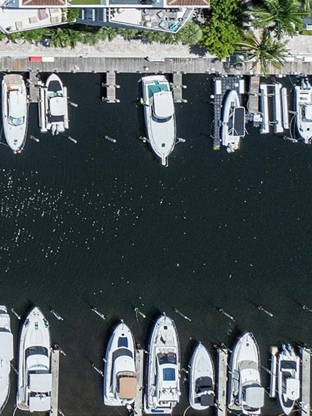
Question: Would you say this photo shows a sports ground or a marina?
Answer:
marina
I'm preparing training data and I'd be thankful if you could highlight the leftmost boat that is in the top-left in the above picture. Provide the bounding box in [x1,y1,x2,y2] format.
[0,70,29,157]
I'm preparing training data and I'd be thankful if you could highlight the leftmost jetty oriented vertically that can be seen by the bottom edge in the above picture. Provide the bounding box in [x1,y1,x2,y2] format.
[49,349,62,416]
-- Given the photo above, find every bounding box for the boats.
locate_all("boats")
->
[13,306,53,413]
[0,70,29,157]
[226,329,263,413]
[136,72,177,165]
[0,304,11,410]
[41,71,64,132]
[99,318,137,405]
[184,339,213,407]
[286,80,312,146]
[275,346,295,416]
[143,311,181,413]
[215,88,244,152]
